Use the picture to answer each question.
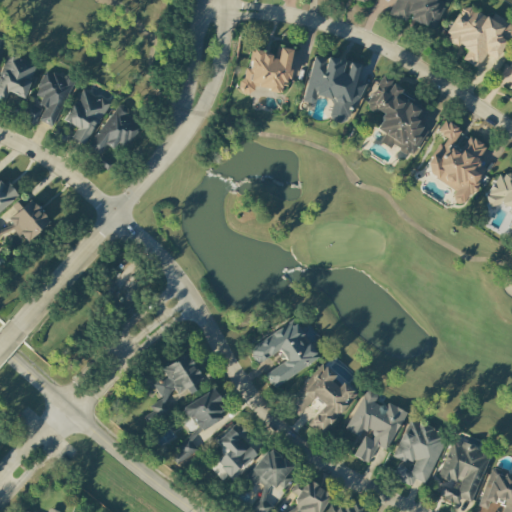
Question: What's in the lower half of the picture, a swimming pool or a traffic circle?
swimming pool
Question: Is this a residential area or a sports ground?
residential area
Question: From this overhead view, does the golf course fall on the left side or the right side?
right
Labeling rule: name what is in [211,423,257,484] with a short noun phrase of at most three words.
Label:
house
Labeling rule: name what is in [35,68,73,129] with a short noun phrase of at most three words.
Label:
house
